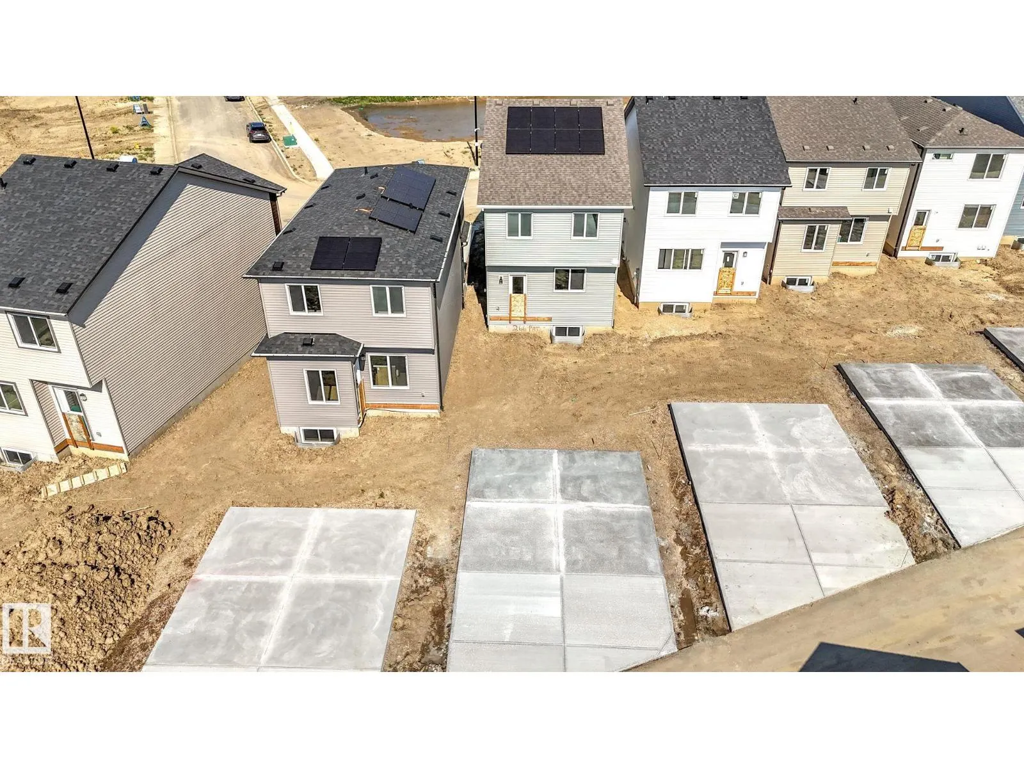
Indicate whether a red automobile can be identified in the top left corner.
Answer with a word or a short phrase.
No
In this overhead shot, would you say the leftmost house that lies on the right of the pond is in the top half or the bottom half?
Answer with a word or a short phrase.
top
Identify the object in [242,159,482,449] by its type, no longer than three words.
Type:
house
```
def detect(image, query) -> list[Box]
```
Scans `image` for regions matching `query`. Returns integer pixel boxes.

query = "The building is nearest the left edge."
[0,152,287,467]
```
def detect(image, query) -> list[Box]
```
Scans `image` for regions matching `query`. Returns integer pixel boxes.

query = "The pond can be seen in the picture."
[359,101,482,142]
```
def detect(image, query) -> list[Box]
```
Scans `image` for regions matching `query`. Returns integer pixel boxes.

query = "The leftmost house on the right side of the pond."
[475,97,635,342]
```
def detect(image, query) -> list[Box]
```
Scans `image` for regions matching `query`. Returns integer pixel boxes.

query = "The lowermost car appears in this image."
[241,115,268,140]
